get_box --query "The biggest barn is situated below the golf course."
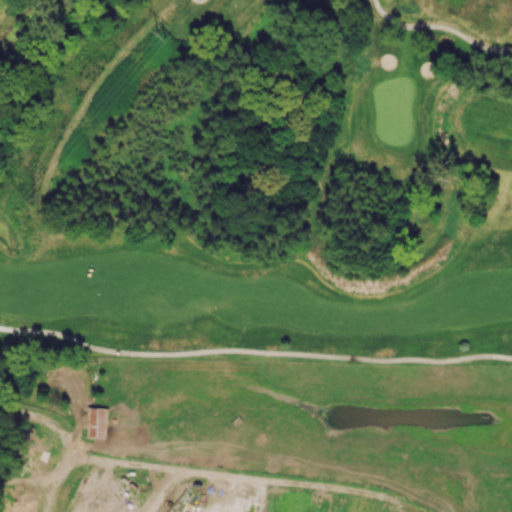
[87,408,108,442]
